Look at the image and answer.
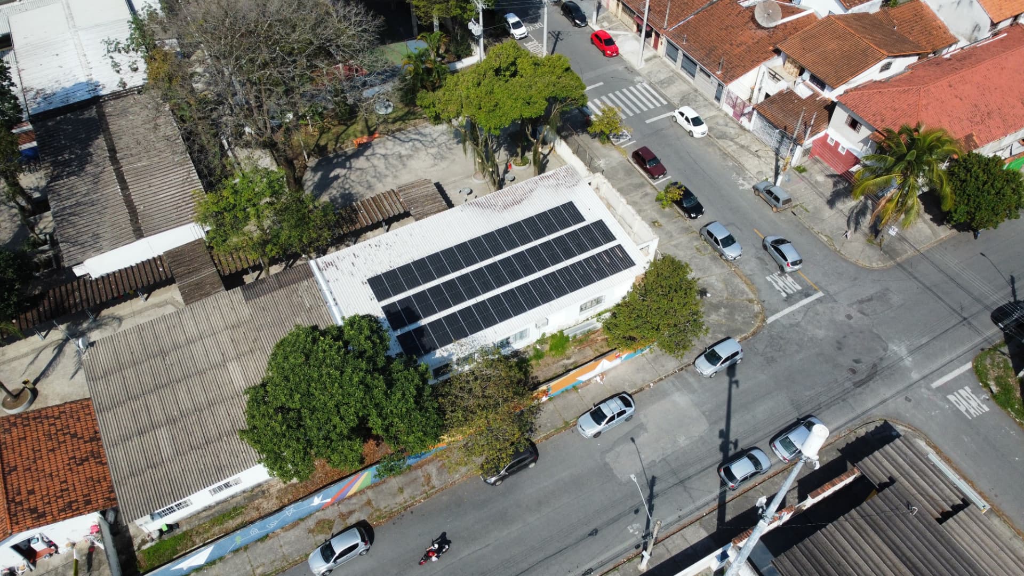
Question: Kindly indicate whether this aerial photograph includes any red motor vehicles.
Yes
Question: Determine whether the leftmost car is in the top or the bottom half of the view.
bottom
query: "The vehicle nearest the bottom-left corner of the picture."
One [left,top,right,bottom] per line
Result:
[307,523,377,576]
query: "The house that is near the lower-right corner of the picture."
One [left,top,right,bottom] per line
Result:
[771,427,1024,576]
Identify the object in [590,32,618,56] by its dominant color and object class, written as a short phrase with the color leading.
red car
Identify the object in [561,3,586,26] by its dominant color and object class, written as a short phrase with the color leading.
black car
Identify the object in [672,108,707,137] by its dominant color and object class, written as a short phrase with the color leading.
white car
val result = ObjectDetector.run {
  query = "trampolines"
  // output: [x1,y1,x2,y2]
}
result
[373,101,395,116]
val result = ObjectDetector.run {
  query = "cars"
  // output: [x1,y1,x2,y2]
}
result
[671,187,705,221]
[672,108,707,137]
[480,442,541,489]
[631,148,667,180]
[577,394,636,438]
[693,340,745,379]
[757,238,807,274]
[990,298,1024,334]
[561,3,586,26]
[502,12,529,38]
[590,32,618,56]
[307,523,377,576]
[709,453,771,496]
[750,182,795,214]
[770,420,809,461]
[572,96,595,118]
[699,225,741,261]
